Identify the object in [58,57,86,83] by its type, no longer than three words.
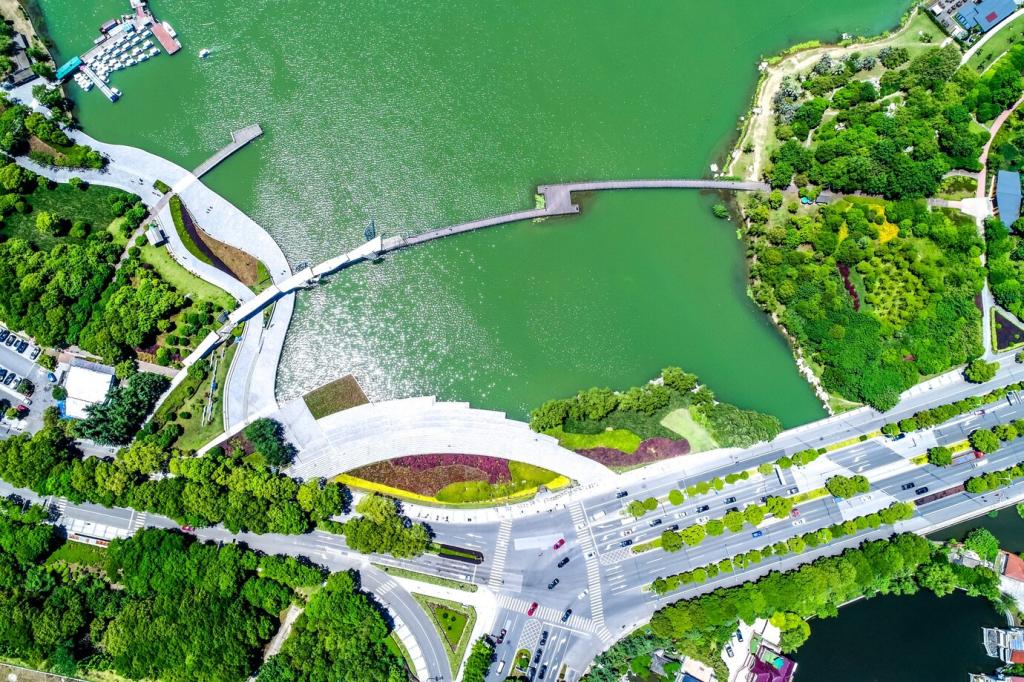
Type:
building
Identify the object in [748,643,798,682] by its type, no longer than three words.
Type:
house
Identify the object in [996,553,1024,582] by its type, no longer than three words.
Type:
house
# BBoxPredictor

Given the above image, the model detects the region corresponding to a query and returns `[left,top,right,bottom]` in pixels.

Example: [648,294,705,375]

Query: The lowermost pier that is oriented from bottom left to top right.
[191,123,263,178]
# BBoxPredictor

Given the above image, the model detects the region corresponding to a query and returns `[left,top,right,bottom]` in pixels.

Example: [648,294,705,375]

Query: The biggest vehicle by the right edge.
[953,453,984,467]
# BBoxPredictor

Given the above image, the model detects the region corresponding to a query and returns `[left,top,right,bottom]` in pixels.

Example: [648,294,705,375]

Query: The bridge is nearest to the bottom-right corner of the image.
[784,404,1024,536]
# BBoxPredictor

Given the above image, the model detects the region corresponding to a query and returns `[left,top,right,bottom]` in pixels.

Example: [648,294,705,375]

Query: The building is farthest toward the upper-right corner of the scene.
[968,0,1018,38]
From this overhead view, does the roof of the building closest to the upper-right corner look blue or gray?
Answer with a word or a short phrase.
blue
